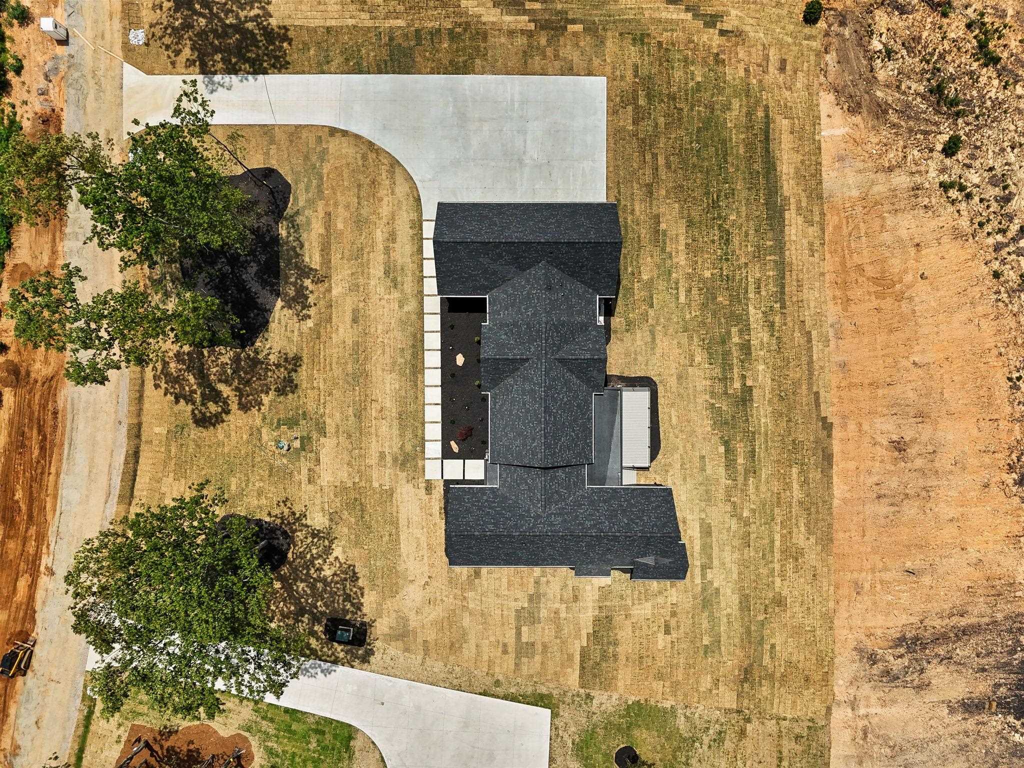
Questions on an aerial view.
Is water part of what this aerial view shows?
No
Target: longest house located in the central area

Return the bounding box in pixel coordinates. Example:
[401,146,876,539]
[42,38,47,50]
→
[433,201,689,581]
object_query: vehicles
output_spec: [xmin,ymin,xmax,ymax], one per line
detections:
[0,634,37,682]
